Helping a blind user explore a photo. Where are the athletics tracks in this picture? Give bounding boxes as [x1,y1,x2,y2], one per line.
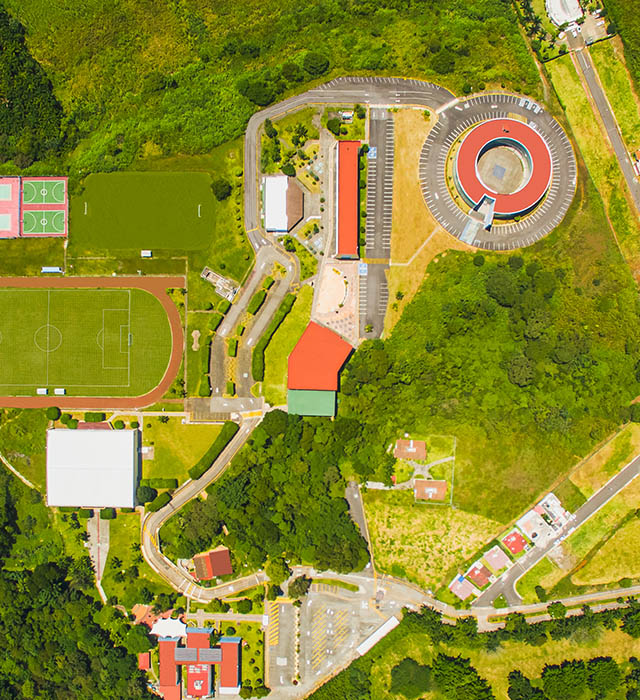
[0,277,186,409]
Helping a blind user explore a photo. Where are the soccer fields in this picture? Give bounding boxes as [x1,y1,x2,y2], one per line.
[0,288,172,396]
[69,172,216,249]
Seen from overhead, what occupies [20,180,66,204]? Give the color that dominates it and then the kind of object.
green basketball court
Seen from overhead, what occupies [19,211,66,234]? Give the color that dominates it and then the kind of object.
green basketball court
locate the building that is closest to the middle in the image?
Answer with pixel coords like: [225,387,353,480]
[288,321,352,390]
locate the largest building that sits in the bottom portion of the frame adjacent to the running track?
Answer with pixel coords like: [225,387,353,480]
[46,428,137,509]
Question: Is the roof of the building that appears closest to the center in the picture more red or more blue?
red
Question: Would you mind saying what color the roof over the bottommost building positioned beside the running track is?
white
